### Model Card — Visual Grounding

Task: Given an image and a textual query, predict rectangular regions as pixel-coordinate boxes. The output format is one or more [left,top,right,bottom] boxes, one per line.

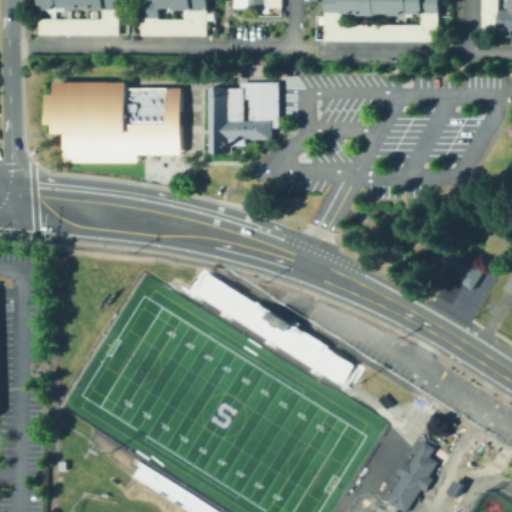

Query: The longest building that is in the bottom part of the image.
[386,439,438,507]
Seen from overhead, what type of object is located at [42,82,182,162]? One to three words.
building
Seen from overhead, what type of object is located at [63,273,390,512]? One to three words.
sports field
